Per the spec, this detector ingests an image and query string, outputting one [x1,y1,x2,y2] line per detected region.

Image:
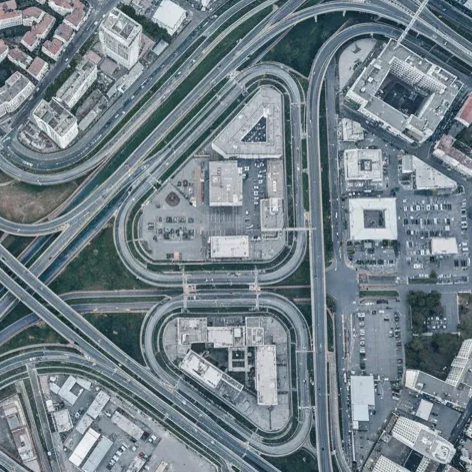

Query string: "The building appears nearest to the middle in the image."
[208,236,249,257]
